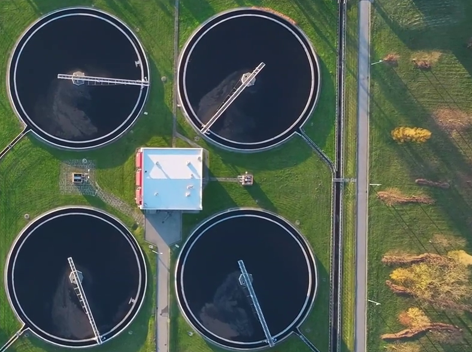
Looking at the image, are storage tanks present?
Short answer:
Yes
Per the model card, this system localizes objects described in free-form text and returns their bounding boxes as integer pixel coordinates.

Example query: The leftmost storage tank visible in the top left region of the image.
[4,6,151,152]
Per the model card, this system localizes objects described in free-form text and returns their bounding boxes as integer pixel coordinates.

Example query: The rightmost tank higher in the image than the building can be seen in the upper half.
[173,6,323,154]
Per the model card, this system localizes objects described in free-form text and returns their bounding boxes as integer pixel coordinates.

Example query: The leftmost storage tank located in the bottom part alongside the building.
[2,204,149,351]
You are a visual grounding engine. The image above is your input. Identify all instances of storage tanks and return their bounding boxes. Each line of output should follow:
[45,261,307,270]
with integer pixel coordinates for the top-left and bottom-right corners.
[4,6,151,152]
[173,6,323,154]
[172,206,319,352]
[2,204,149,351]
